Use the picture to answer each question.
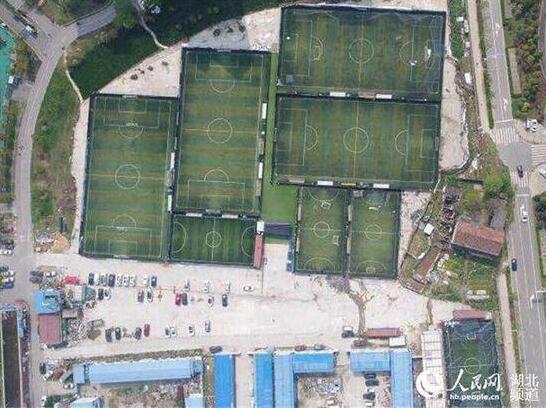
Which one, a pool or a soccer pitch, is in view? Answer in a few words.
soccer pitch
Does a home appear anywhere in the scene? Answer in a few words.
Yes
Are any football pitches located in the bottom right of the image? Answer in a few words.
Yes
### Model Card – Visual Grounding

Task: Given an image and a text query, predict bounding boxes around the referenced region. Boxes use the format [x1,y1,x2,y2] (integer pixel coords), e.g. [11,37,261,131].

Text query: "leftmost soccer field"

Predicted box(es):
[84,98,180,261]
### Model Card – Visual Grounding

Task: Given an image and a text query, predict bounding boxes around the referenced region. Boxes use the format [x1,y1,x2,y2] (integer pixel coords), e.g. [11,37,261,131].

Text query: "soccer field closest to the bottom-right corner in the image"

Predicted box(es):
[439,316,503,410]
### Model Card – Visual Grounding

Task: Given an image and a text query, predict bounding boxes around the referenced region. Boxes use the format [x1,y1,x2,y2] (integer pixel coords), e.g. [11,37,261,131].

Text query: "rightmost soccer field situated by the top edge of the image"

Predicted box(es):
[277,11,442,101]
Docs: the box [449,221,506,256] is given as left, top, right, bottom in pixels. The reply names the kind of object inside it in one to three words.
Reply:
house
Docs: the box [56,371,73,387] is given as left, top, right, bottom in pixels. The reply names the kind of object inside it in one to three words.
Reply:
vehicle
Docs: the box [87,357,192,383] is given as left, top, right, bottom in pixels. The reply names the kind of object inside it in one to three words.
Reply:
building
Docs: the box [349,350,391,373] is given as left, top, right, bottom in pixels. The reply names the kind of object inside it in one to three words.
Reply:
building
